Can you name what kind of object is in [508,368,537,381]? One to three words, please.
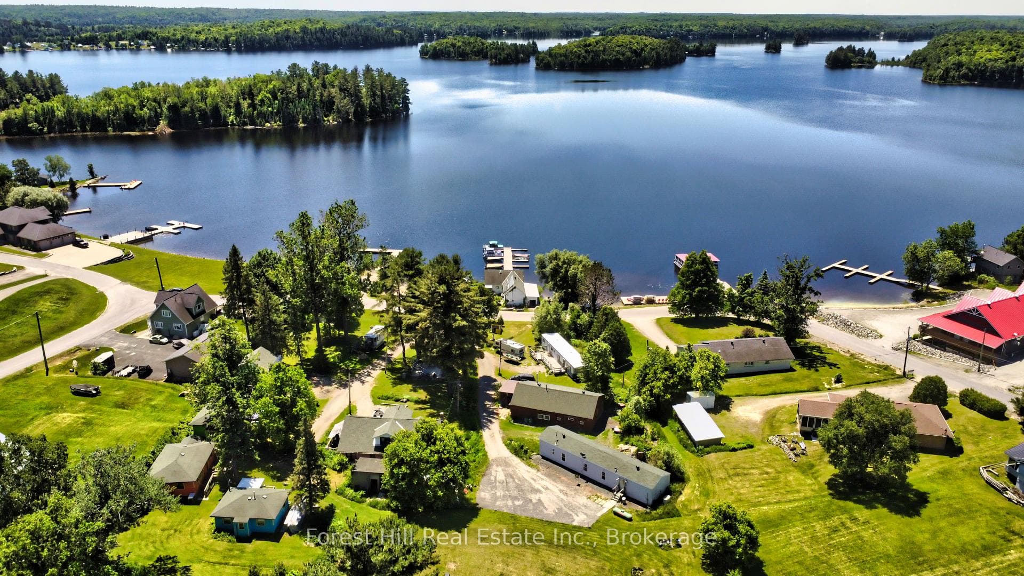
vehicle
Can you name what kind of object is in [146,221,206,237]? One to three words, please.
pier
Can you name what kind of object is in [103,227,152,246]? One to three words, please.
pier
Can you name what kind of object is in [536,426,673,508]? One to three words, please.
house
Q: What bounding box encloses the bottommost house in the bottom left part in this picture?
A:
[211,478,291,543]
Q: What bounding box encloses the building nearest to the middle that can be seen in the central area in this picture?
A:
[485,266,540,305]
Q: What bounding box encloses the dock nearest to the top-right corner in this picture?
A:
[818,259,910,285]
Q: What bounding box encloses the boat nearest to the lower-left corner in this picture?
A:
[62,383,106,396]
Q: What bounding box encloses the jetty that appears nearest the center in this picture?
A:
[486,248,528,270]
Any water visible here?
Yes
